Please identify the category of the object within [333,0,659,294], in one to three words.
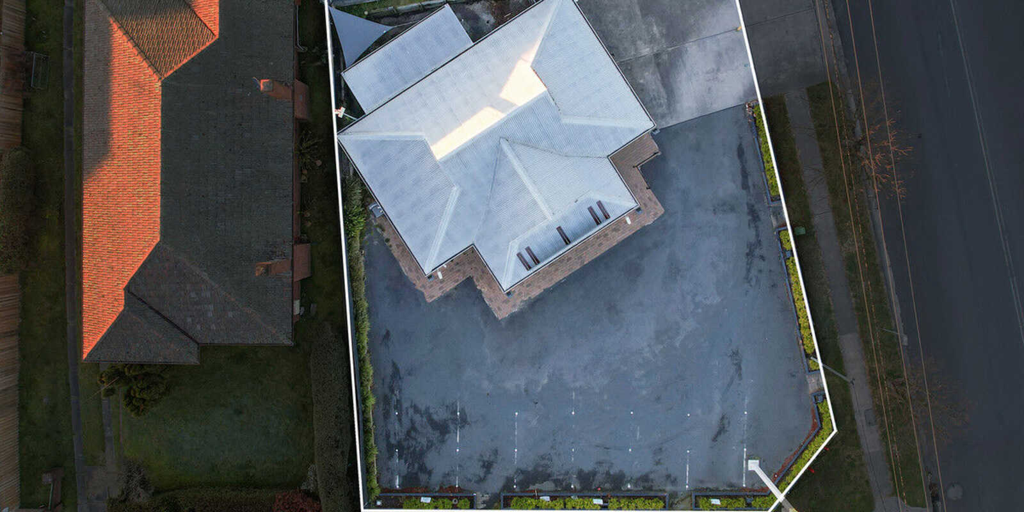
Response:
house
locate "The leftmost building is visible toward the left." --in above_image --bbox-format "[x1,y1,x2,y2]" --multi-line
[81,0,310,364]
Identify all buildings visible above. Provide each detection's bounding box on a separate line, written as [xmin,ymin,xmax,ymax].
[333,0,659,294]
[81,0,310,364]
